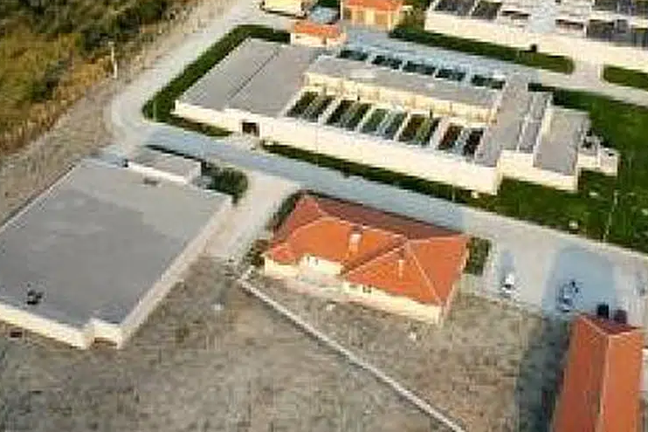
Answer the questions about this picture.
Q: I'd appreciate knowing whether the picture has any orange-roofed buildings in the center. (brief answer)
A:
Yes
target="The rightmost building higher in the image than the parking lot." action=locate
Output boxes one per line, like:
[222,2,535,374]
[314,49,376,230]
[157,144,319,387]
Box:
[576,134,621,188]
